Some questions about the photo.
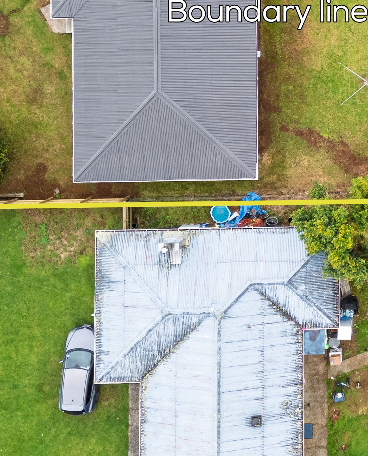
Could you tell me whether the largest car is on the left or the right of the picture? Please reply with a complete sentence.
It is on the left.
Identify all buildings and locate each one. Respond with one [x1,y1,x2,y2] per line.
[89,222,342,456]
[48,0,264,184]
